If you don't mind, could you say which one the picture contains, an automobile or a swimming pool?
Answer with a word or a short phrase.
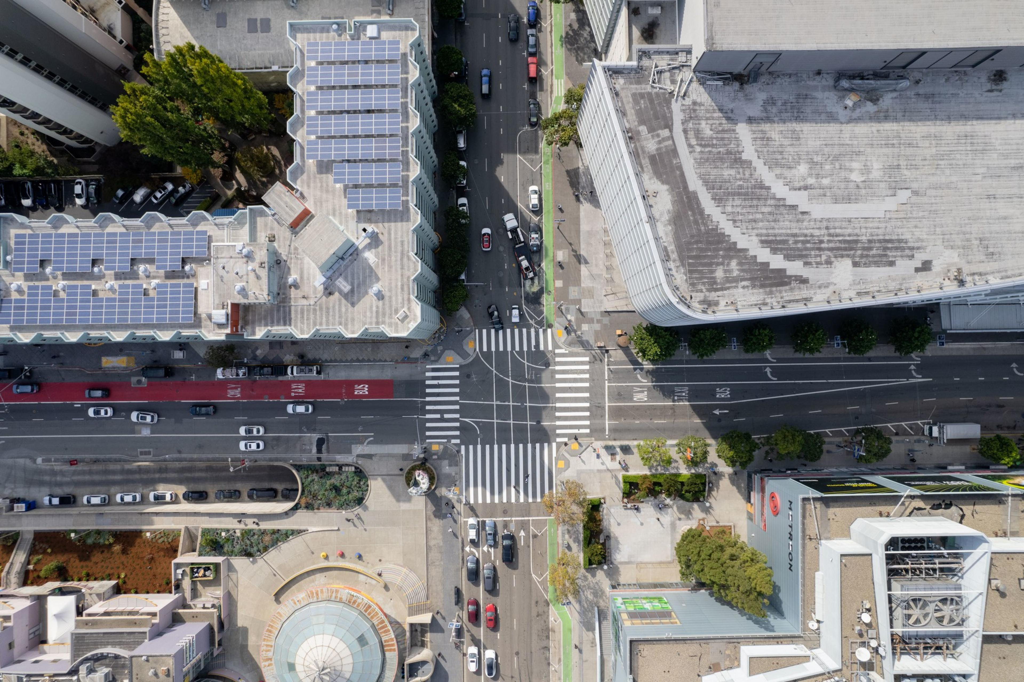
automobile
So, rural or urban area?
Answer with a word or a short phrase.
urban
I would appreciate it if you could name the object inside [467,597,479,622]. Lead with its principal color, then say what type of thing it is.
red vehicle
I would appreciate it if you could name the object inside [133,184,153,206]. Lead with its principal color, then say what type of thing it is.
gray car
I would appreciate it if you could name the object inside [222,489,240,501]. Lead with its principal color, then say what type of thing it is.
black vehicle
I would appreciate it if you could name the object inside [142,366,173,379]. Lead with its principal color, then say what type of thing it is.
black vehicle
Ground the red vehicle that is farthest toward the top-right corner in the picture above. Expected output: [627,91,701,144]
[527,57,539,83]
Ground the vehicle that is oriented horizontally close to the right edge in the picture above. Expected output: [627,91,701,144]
[922,423,980,439]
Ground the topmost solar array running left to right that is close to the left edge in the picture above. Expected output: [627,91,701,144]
[12,231,207,273]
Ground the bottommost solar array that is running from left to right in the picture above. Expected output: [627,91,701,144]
[0,282,194,324]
